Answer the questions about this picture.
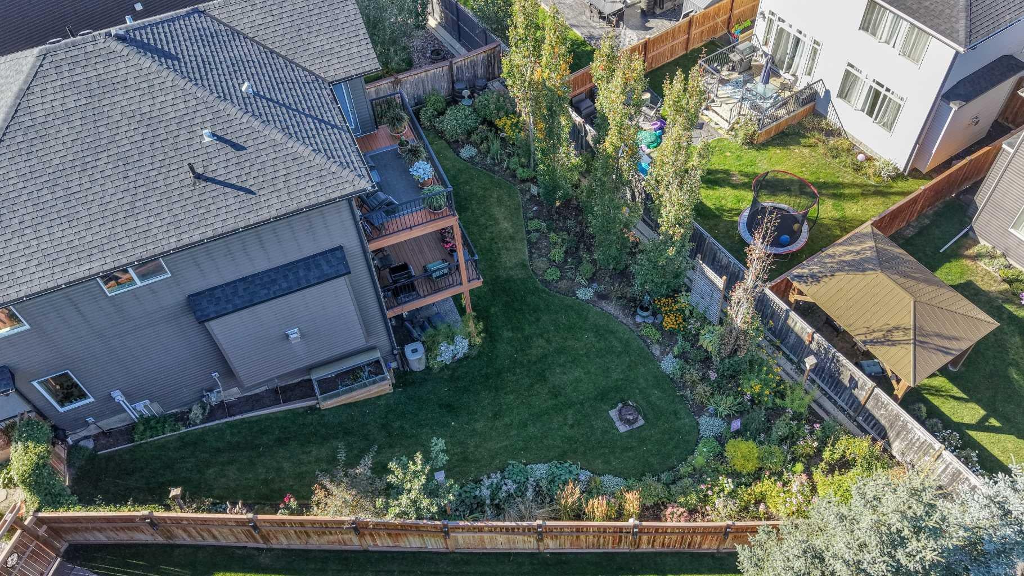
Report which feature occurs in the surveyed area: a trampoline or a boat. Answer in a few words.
trampoline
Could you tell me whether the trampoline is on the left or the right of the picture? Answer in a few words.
right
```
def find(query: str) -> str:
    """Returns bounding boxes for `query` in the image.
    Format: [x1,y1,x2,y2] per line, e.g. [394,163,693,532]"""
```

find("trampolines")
[737,167,820,264]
